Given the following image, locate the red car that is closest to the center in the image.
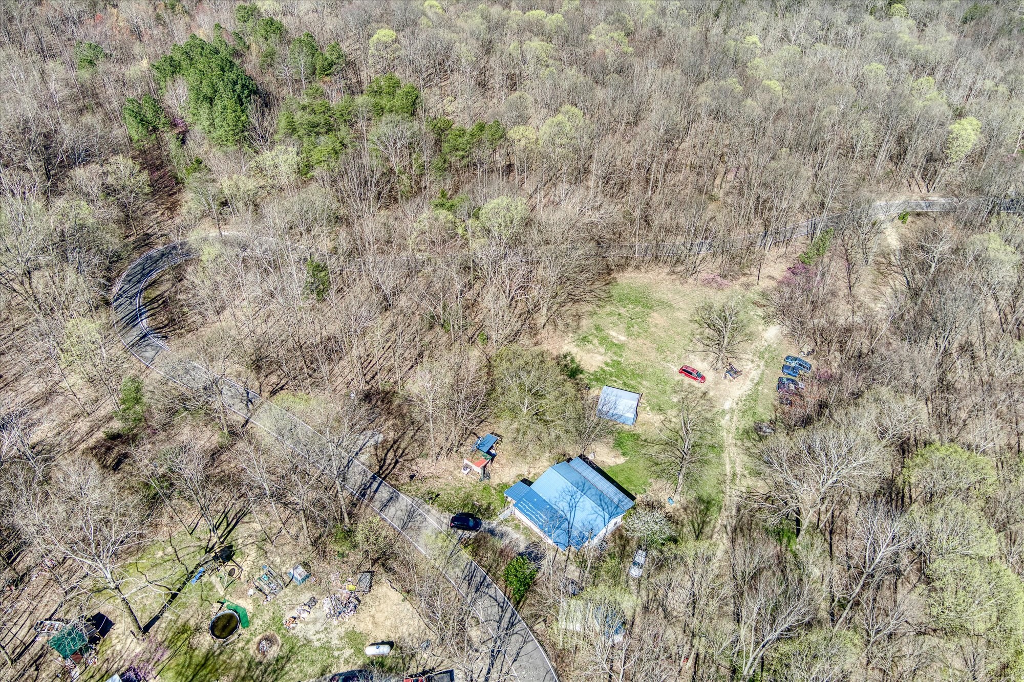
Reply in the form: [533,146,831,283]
[678,363,707,384]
